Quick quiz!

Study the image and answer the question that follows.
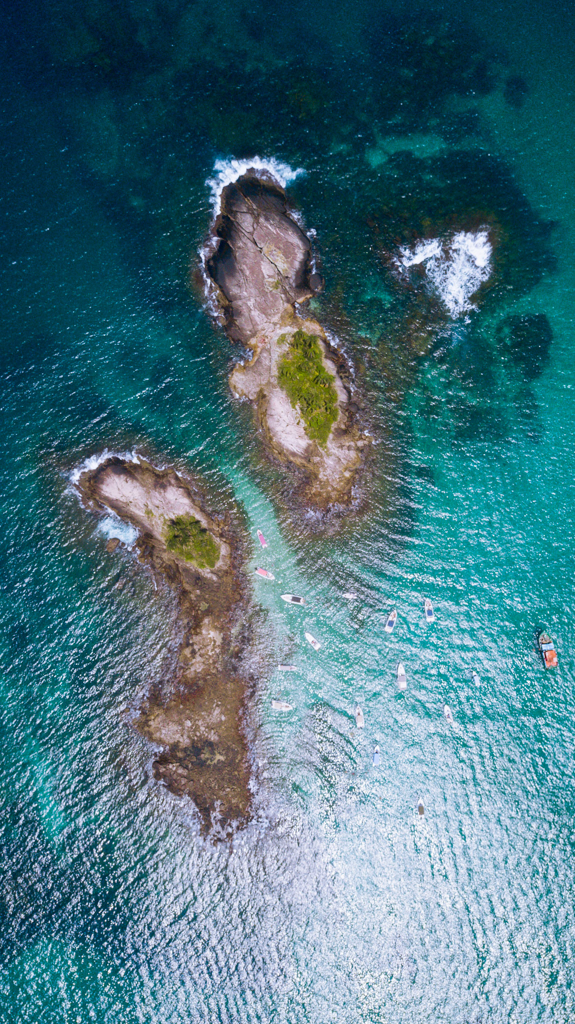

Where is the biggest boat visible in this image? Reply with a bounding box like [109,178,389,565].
[541,631,559,670]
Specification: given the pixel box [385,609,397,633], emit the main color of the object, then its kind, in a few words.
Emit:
white boat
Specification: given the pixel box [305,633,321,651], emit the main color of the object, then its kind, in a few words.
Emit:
white boat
